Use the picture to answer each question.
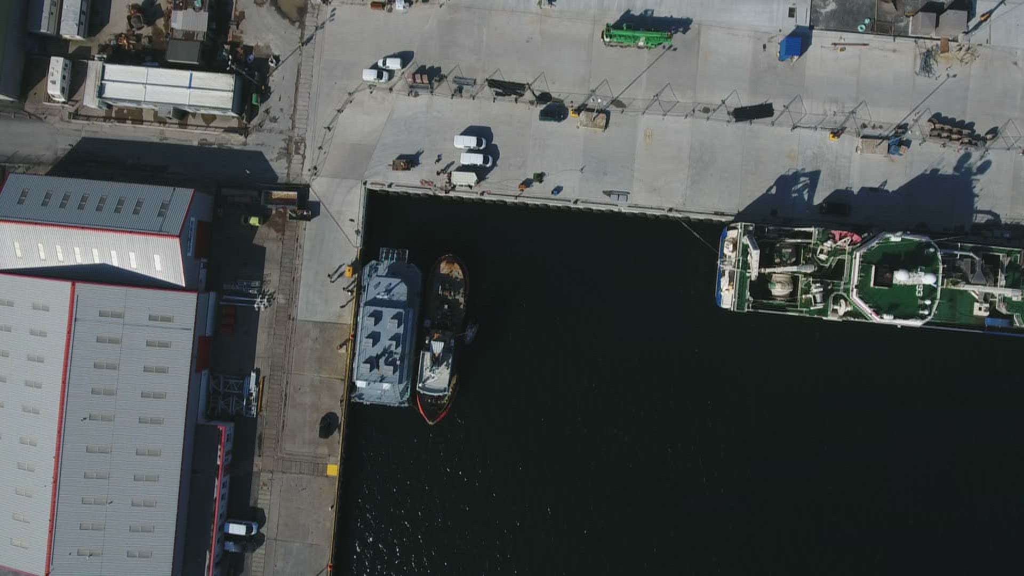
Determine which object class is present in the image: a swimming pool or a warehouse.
warehouse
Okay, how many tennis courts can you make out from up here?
0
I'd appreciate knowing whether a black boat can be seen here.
Yes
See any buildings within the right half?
No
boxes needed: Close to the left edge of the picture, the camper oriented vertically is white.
[43,54,69,108]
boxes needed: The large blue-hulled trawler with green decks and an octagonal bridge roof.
[718,221,1024,335]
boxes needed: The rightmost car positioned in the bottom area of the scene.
[317,416,330,441]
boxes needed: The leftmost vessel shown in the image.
[352,248,423,408]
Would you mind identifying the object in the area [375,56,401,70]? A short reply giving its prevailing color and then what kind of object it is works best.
white vehicle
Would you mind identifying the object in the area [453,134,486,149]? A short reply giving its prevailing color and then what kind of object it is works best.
white vehicle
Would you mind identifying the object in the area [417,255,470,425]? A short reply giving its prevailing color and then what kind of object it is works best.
black boat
